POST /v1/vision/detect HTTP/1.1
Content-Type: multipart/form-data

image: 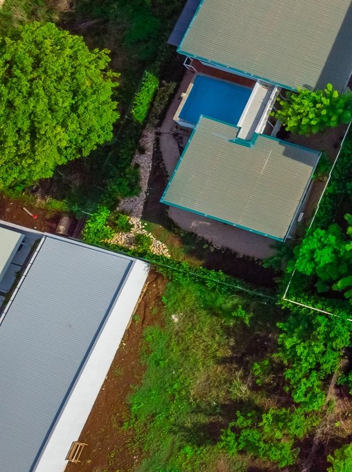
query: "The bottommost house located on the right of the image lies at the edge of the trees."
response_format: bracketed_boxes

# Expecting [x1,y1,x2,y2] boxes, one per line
[157,113,326,246]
